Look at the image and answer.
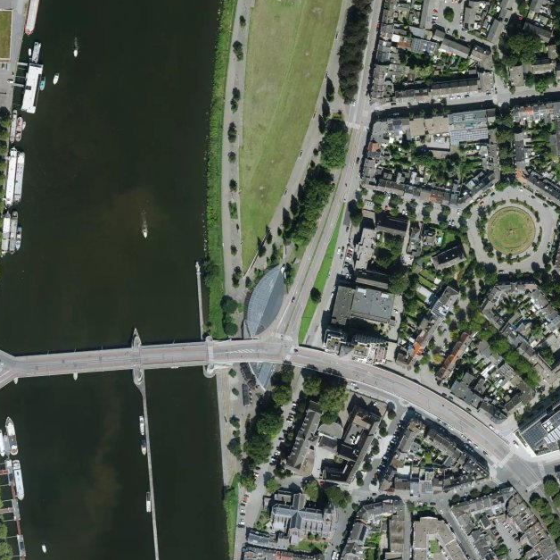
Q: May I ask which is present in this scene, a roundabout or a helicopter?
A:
roundabout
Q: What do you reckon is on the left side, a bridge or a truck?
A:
bridge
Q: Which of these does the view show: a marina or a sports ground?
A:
marina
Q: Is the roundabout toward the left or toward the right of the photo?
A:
right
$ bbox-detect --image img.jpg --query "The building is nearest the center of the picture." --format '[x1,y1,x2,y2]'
[247,265,284,336]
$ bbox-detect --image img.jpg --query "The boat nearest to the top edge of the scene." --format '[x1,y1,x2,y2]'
[26,0,38,35]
